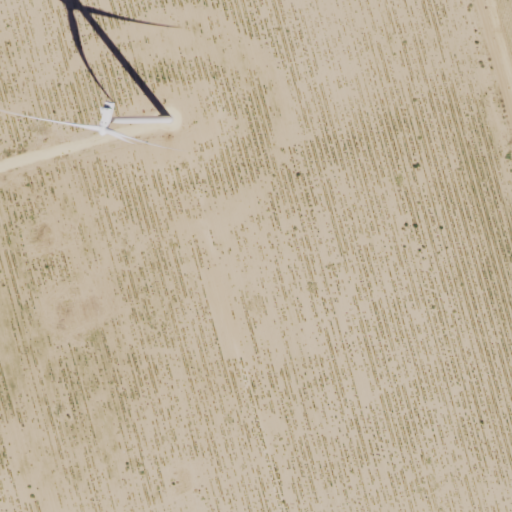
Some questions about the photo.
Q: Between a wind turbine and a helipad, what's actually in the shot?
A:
wind turbine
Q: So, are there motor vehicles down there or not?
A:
No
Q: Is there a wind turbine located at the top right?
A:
No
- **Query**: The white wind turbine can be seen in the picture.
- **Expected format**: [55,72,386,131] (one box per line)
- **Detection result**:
[1,101,184,147]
